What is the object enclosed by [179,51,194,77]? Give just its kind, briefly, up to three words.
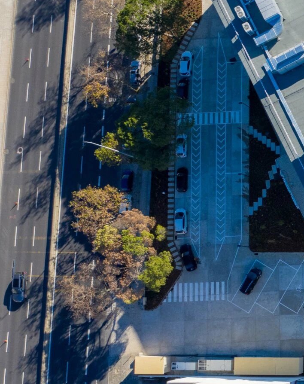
car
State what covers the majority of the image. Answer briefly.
paved ground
